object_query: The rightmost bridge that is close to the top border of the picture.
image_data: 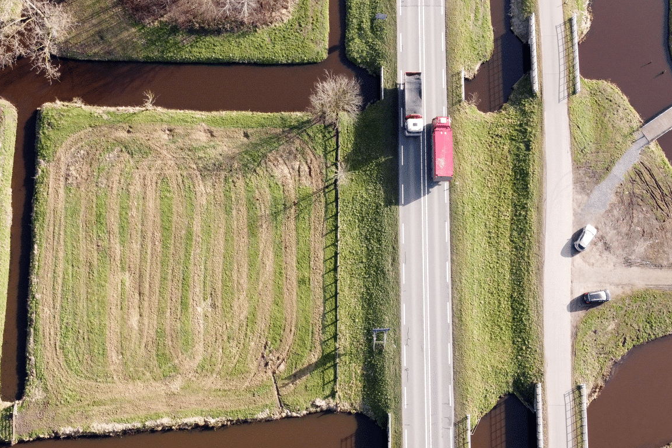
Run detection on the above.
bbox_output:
[524,11,582,103]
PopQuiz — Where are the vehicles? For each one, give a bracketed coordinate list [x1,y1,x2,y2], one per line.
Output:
[581,289,612,305]
[432,118,454,182]
[404,71,424,137]
[574,224,597,251]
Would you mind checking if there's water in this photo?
Yes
